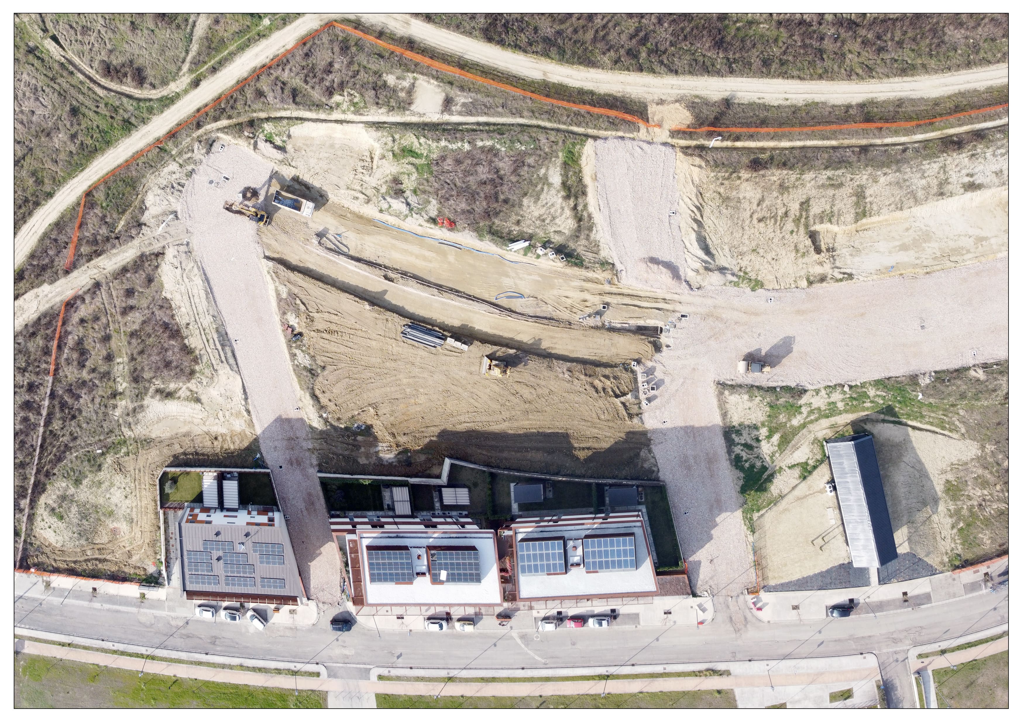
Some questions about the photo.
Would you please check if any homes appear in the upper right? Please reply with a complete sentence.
No, there is no home in the upper right.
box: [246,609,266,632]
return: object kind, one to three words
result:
car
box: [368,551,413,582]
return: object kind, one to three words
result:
solar panel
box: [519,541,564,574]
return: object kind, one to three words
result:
solar panel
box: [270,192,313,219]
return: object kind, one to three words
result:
truck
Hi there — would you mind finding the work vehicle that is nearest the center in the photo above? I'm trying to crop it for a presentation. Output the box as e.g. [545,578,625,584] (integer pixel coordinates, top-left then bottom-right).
[484,361,509,380]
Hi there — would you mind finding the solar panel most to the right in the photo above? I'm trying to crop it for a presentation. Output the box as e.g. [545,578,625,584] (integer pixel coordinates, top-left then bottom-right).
[584,538,635,570]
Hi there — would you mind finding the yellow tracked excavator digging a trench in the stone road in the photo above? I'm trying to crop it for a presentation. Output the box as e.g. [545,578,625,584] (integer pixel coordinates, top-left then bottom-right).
[227,201,270,229]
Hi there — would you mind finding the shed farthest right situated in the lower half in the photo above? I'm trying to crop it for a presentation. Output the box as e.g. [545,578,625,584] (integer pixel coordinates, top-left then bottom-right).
[824,431,897,567]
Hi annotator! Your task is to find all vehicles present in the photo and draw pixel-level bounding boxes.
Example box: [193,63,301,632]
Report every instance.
[227,201,270,229]
[484,361,509,380]
[246,609,266,632]
[538,621,558,633]
[329,622,352,633]
[567,619,584,630]
[739,362,768,376]
[588,617,611,628]
[454,622,474,633]
[270,192,313,219]
[424,621,447,633]
[828,606,851,618]
[219,612,242,623]
[195,609,216,621]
